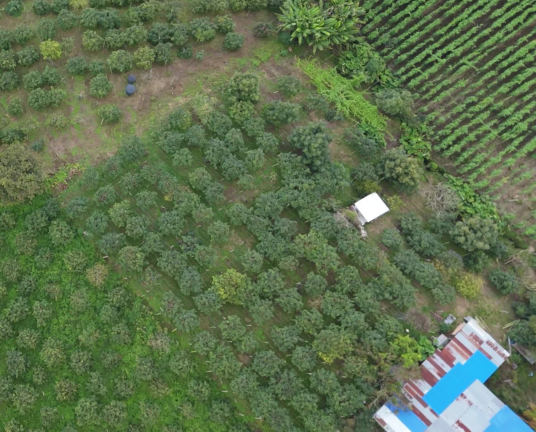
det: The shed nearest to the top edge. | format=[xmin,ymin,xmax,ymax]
[349,192,389,226]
